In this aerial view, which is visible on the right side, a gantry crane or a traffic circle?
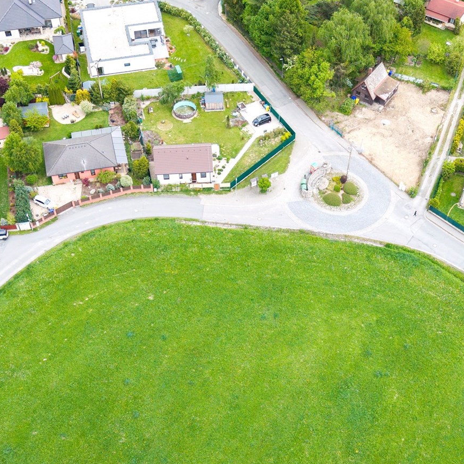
traffic circle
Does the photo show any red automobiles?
No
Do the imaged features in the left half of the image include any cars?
Yes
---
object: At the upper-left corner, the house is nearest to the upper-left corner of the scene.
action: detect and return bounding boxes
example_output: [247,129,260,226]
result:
[0,0,66,50]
